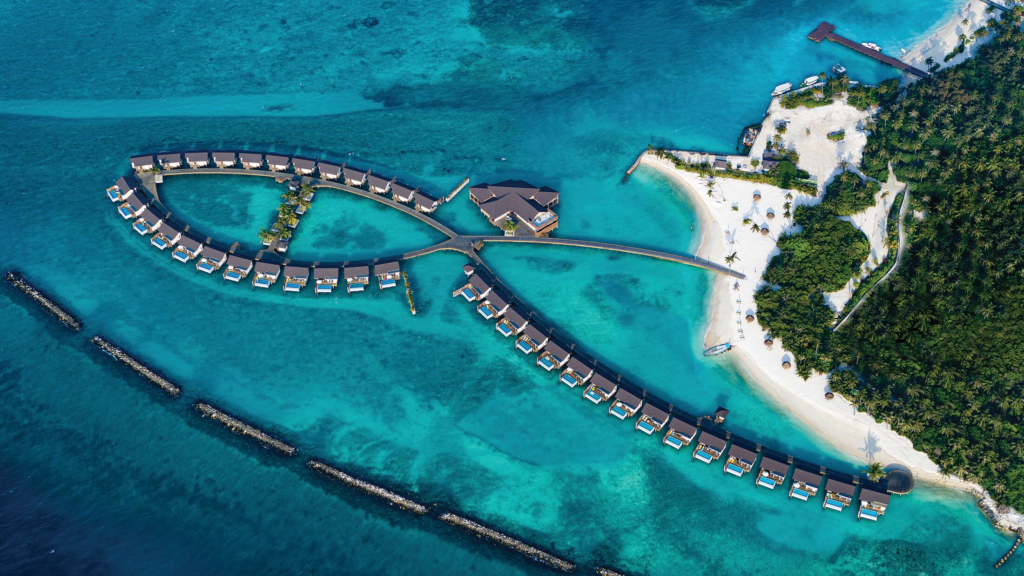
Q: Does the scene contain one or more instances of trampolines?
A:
No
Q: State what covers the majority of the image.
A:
water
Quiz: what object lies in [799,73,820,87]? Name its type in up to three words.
boat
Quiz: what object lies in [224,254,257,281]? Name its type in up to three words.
house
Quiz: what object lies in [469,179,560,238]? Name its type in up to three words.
building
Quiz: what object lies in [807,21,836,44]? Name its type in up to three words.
pier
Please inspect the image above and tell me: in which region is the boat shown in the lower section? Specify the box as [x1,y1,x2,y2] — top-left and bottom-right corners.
[704,342,732,354]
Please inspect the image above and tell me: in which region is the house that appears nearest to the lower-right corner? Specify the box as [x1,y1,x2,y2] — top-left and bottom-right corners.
[855,484,891,521]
